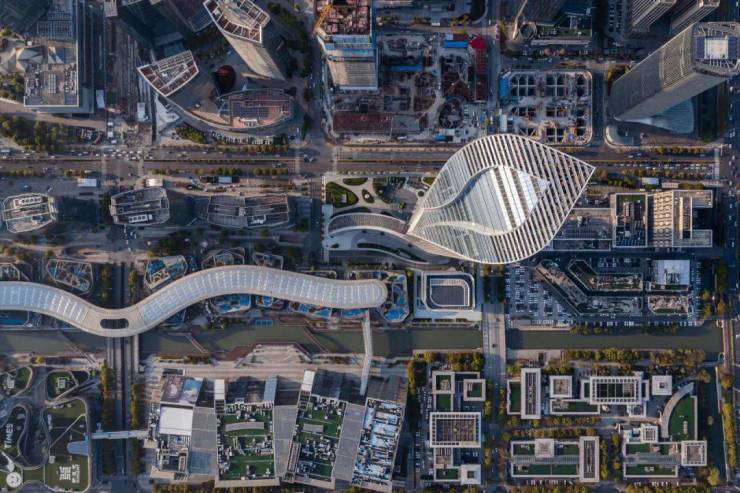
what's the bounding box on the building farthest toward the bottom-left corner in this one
[67,437,92,456]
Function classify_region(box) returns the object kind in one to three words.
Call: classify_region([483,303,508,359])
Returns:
bridge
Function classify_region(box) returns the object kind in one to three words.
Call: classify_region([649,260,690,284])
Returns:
building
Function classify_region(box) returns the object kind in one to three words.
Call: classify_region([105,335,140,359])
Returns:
bridge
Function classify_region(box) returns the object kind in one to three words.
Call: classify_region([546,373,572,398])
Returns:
building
